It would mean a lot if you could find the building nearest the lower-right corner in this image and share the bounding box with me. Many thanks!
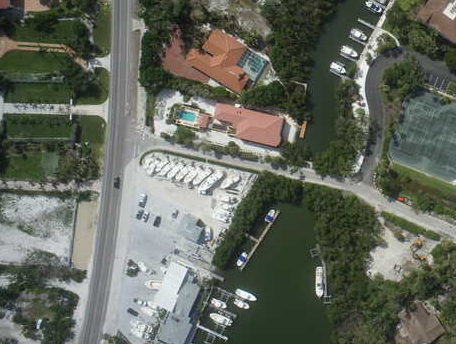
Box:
[389,299,447,344]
